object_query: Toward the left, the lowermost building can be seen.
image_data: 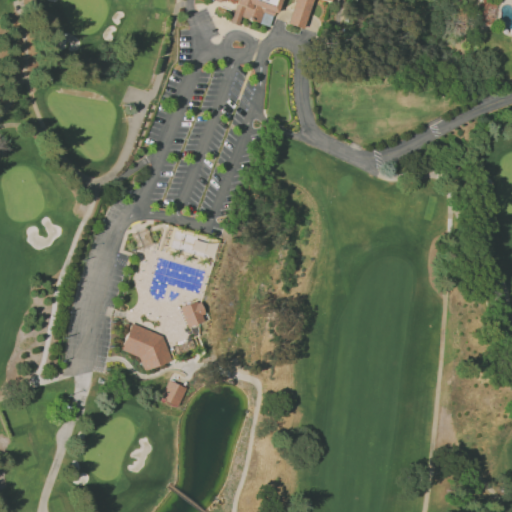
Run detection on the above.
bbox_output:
[164,382,188,407]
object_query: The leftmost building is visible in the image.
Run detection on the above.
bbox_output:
[124,324,173,371]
